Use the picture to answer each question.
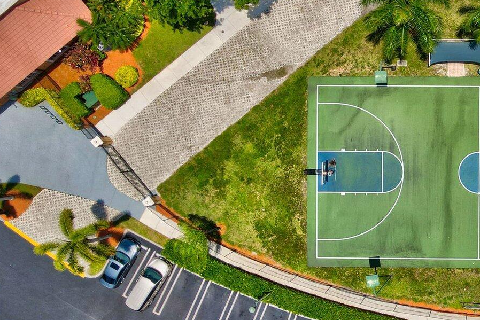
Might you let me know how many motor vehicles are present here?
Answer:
2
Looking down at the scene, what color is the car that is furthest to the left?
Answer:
blue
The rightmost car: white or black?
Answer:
white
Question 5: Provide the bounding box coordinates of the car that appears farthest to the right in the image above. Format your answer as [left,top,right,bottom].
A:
[123,255,174,315]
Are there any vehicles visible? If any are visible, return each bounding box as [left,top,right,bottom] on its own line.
[123,255,174,315]
[99,234,142,290]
